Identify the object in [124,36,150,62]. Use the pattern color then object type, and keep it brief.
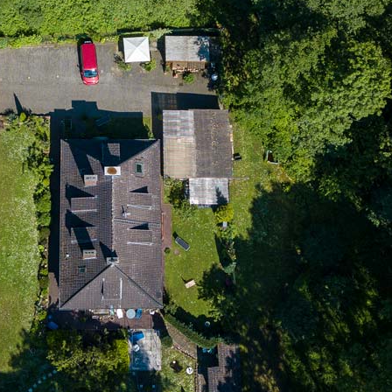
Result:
white gazebo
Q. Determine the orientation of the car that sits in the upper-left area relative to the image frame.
up and down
